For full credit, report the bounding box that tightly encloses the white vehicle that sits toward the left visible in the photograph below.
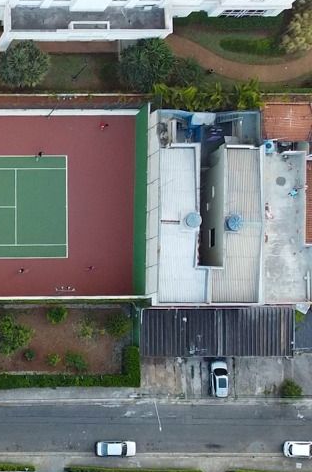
[95,439,135,459]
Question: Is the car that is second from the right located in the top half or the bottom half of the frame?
bottom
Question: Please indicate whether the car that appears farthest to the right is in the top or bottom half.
bottom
